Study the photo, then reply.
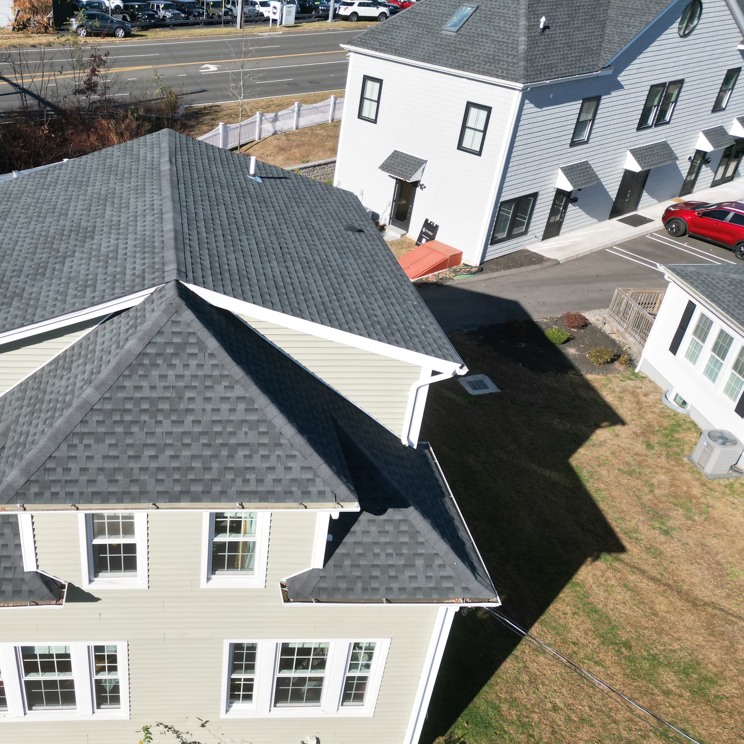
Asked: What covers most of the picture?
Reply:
buildings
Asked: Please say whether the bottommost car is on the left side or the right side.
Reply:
right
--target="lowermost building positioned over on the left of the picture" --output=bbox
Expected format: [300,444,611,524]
[0,127,503,744]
